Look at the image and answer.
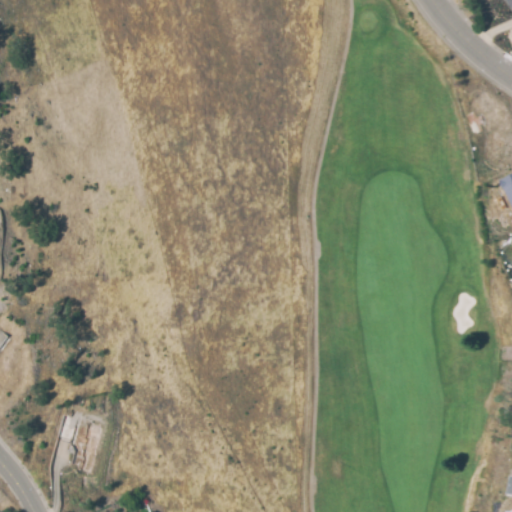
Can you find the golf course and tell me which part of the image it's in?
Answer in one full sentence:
The golf course appears toward the right of the photo.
